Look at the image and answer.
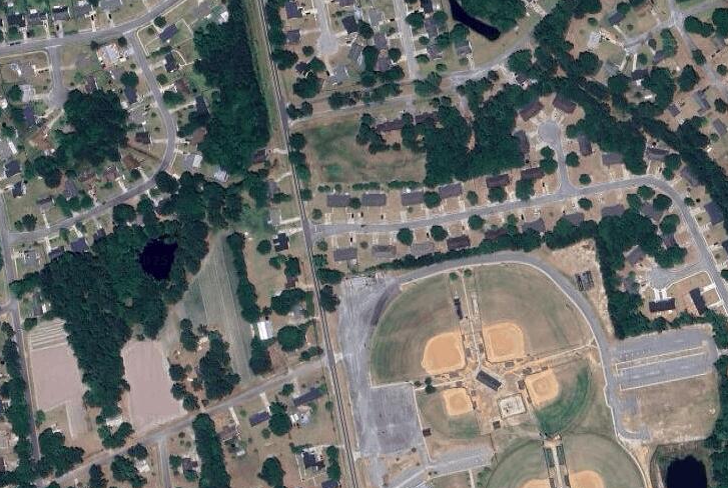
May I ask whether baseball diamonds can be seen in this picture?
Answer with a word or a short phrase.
Yes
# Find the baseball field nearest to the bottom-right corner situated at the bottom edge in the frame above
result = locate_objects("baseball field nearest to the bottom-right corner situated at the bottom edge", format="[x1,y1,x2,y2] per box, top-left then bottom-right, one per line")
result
[562,432,645,488]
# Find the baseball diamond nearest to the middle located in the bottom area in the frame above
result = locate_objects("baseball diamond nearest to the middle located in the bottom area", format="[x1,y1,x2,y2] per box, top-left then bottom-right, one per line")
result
[369,272,468,383]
